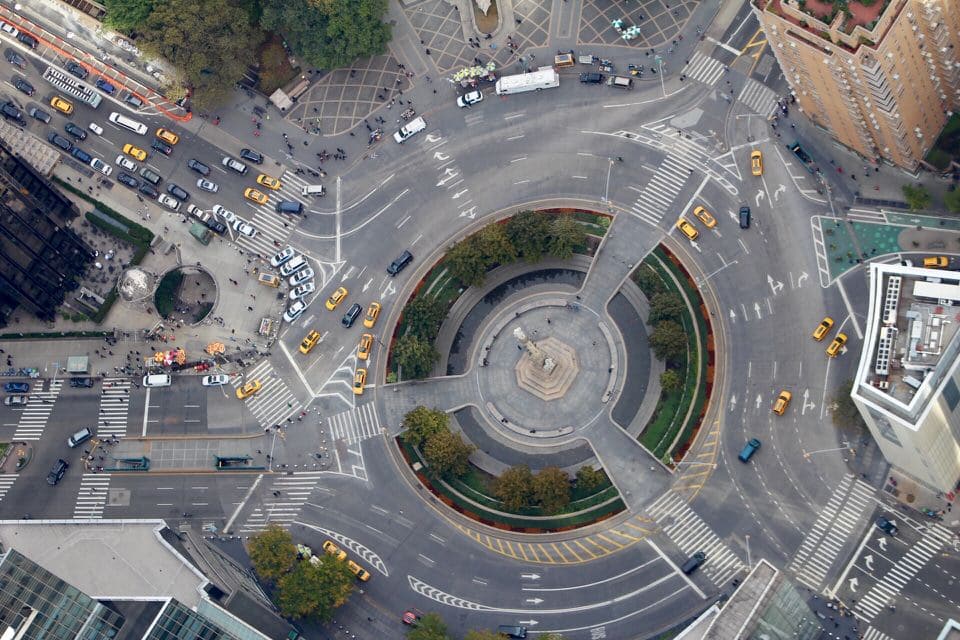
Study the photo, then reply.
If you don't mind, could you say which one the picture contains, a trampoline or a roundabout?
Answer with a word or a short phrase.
roundabout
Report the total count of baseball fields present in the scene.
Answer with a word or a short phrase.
0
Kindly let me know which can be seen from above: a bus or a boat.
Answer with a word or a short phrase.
bus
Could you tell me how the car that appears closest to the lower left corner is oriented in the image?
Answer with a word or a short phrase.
on a diagonal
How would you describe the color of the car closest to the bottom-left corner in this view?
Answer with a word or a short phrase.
black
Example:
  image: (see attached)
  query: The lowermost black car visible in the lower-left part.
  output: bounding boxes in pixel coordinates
[44,456,69,483]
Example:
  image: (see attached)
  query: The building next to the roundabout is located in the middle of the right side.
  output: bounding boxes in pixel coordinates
[851,263,960,494]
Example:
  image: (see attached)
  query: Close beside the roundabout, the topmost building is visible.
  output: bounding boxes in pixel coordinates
[750,0,960,179]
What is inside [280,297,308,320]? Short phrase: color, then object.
white car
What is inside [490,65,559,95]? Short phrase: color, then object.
white bus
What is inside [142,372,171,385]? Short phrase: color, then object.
white vehicle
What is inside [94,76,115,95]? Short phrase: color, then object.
blue car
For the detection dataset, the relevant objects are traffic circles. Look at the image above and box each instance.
[284,112,822,636]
